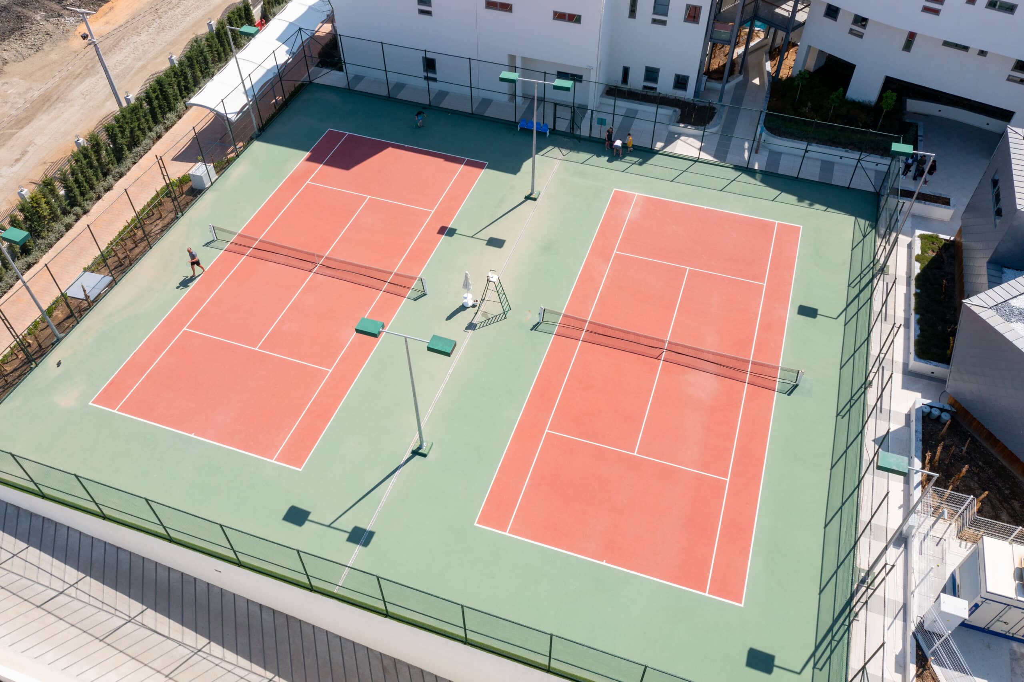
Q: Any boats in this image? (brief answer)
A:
No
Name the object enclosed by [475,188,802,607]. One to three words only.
tennis court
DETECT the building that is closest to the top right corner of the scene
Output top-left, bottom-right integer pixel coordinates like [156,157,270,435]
[792,0,1024,153]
